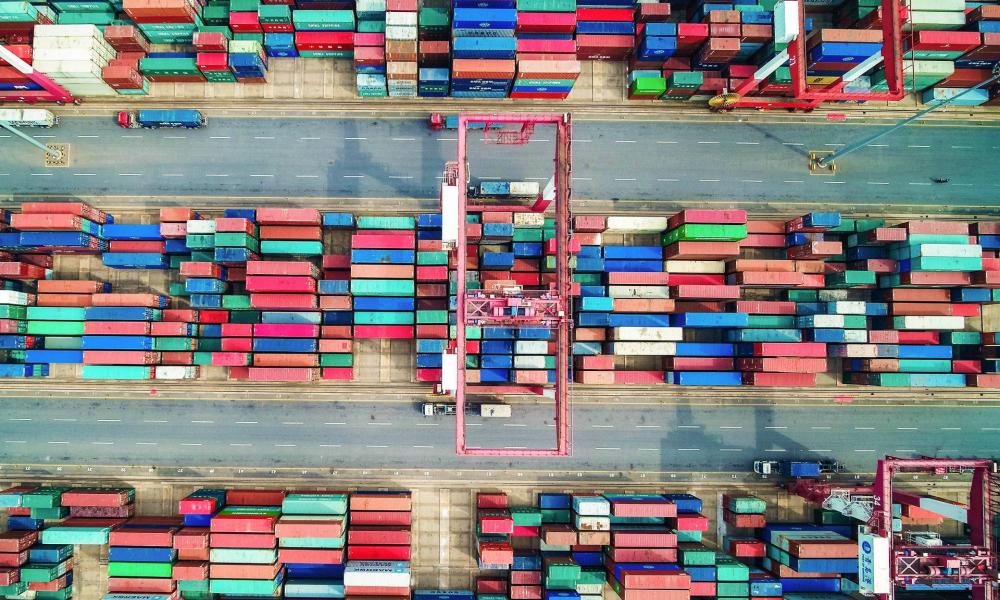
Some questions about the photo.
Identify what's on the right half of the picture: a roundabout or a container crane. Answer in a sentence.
Visible on the right half of the picture is a container crane.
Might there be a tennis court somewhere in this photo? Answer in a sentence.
No, I can see no tennis court in this picture.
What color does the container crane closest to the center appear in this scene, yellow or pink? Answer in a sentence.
In this view, the container crane closest to the center is pink.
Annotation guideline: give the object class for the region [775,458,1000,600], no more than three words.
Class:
container crane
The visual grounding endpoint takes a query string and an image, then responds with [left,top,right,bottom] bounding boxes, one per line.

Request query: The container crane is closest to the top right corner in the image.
[698,0,916,110]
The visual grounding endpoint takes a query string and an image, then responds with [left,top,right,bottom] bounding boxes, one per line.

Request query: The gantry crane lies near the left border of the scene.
[0,48,77,102]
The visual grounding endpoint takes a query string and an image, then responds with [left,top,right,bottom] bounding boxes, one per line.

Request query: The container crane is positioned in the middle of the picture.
[429,112,578,456]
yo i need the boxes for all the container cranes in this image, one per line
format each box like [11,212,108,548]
[0,48,77,102]
[698,0,916,110]
[429,112,578,456]
[775,458,1000,600]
